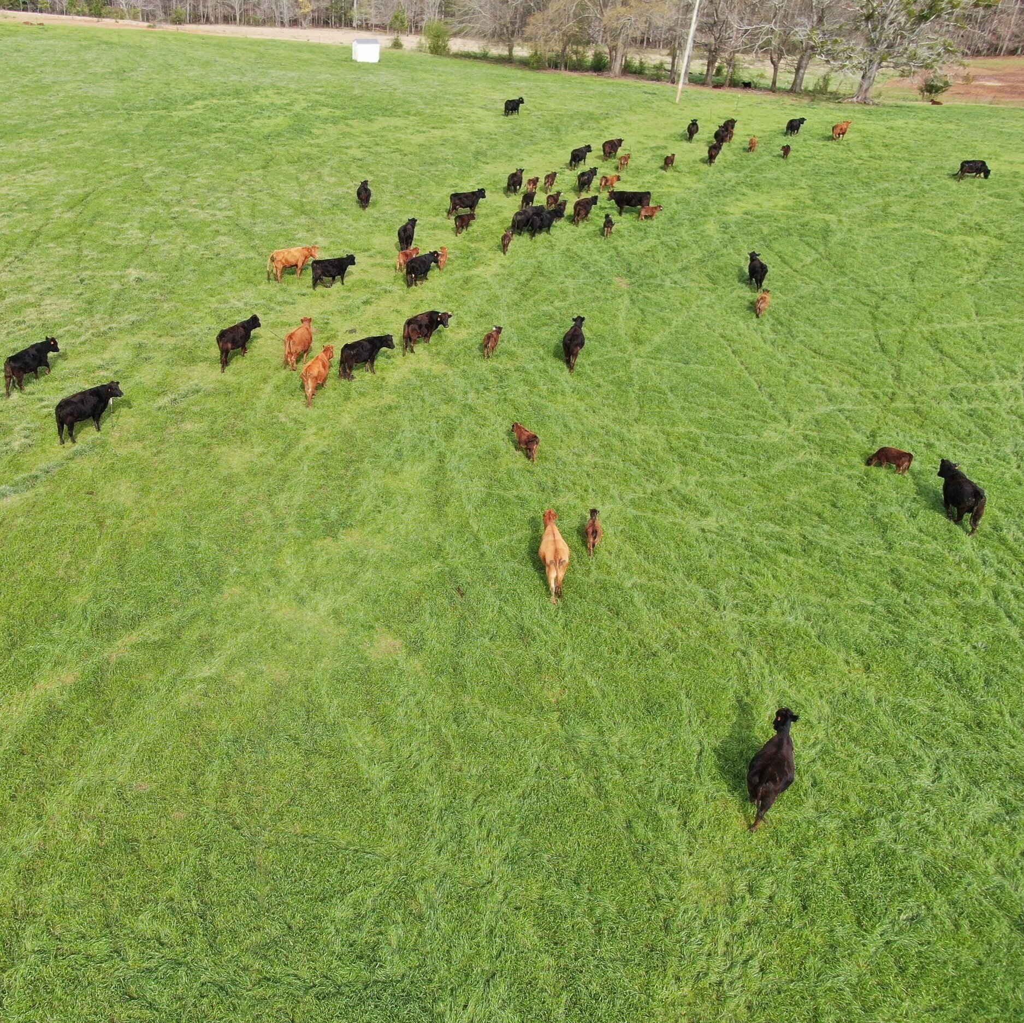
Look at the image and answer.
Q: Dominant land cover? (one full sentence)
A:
Most of the picture is covered by grass.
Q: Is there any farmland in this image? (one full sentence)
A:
Yes, farmland shows up in the scene.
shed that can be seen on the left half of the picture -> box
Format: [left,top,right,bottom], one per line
[349,35,379,62]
